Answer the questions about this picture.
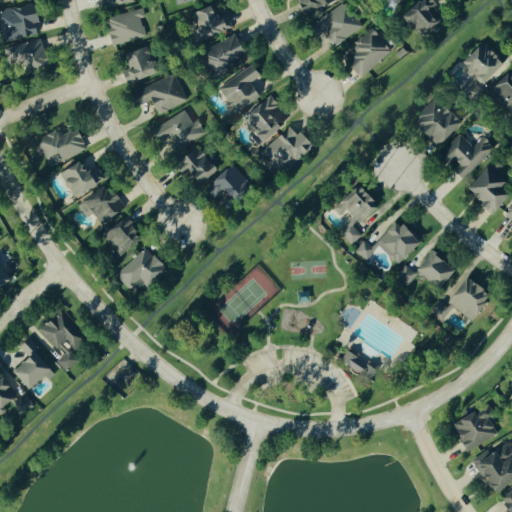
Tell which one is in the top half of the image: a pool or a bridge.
pool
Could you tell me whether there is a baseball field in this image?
No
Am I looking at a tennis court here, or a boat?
tennis court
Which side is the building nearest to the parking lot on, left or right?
right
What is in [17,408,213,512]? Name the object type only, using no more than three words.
pond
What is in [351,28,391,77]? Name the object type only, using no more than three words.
house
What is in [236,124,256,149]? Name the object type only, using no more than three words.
swimming pool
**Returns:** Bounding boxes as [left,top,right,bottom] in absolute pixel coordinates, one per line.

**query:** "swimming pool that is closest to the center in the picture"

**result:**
[326,209,351,233]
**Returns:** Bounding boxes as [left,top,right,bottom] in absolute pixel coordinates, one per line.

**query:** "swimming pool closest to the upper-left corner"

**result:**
[50,172,74,206]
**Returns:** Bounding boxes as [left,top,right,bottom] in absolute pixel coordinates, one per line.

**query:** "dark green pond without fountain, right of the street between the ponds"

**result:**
[265,454,421,512]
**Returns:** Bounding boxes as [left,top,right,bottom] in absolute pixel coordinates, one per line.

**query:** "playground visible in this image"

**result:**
[282,308,323,334]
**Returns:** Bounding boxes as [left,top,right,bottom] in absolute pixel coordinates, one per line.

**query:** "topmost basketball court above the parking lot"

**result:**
[292,261,327,280]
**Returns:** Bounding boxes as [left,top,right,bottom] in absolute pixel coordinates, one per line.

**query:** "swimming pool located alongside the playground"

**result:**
[338,301,418,371]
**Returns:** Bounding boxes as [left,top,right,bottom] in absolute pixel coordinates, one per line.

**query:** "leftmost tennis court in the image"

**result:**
[210,264,280,334]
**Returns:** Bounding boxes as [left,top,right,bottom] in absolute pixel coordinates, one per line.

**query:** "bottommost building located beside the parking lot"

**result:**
[340,348,379,382]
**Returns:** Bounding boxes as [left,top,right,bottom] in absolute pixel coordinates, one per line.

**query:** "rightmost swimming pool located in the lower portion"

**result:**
[447,310,470,332]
